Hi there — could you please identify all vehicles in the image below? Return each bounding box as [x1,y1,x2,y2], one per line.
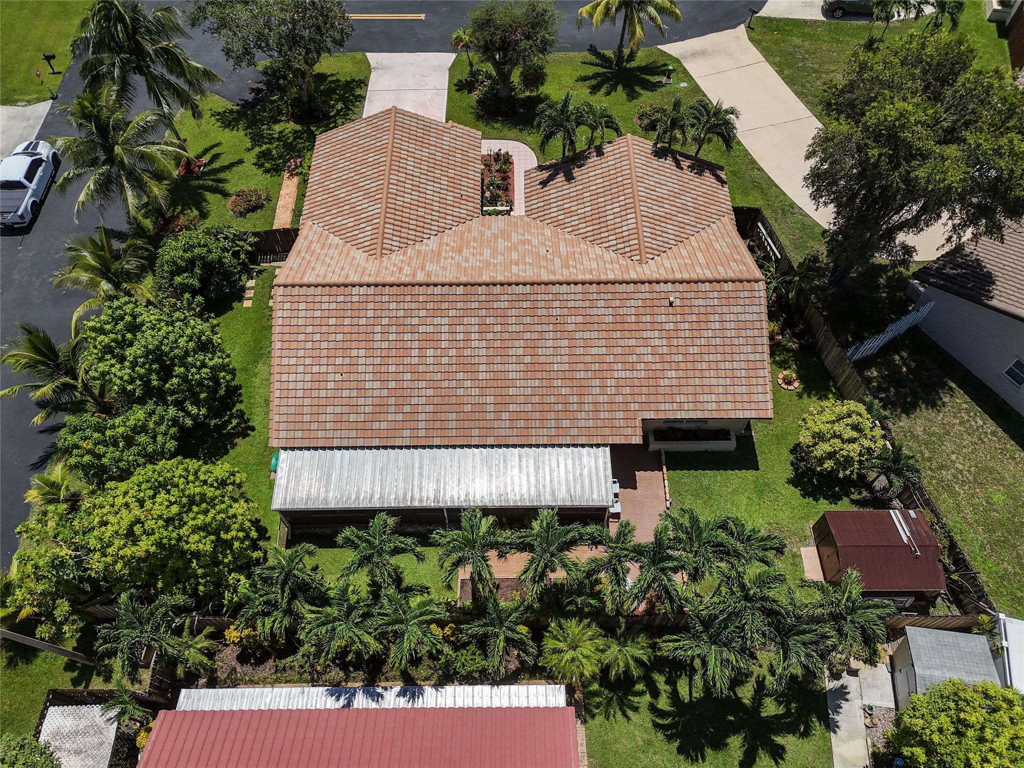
[822,0,891,22]
[0,143,64,232]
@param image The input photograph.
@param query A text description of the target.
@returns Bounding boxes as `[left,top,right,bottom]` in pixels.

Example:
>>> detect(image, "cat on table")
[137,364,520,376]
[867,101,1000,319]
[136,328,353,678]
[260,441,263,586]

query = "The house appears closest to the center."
[266,107,776,454]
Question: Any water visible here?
No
